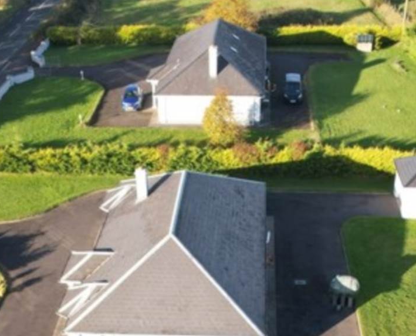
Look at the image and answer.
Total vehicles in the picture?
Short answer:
2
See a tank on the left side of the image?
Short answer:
No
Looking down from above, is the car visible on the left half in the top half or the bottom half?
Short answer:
top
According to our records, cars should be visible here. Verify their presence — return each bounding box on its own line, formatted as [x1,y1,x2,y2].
[281,74,303,100]
[119,84,143,108]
